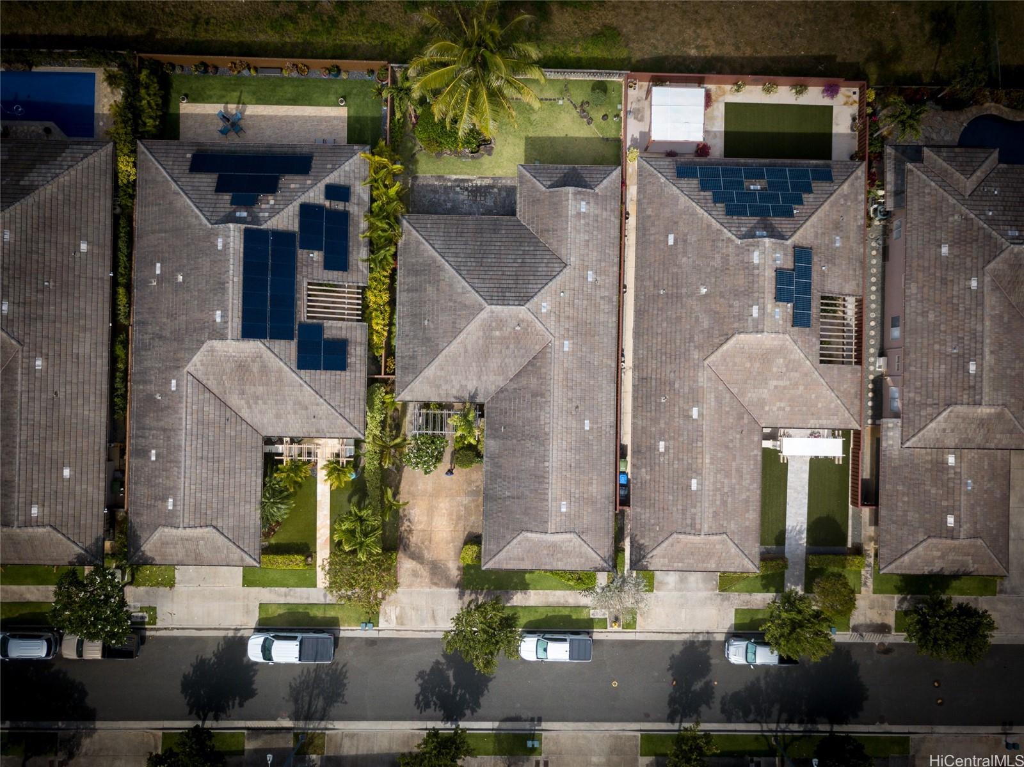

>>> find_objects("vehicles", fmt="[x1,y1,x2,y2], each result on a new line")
[518,628,592,666]
[64,629,146,666]
[723,632,800,669]
[0,627,62,664]
[249,627,337,667]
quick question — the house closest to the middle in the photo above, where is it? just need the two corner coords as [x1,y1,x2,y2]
[395,163,623,572]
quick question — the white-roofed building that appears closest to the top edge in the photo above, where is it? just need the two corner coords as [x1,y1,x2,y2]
[644,86,706,153]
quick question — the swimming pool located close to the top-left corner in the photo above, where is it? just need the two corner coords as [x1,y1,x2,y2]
[0,67,99,141]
